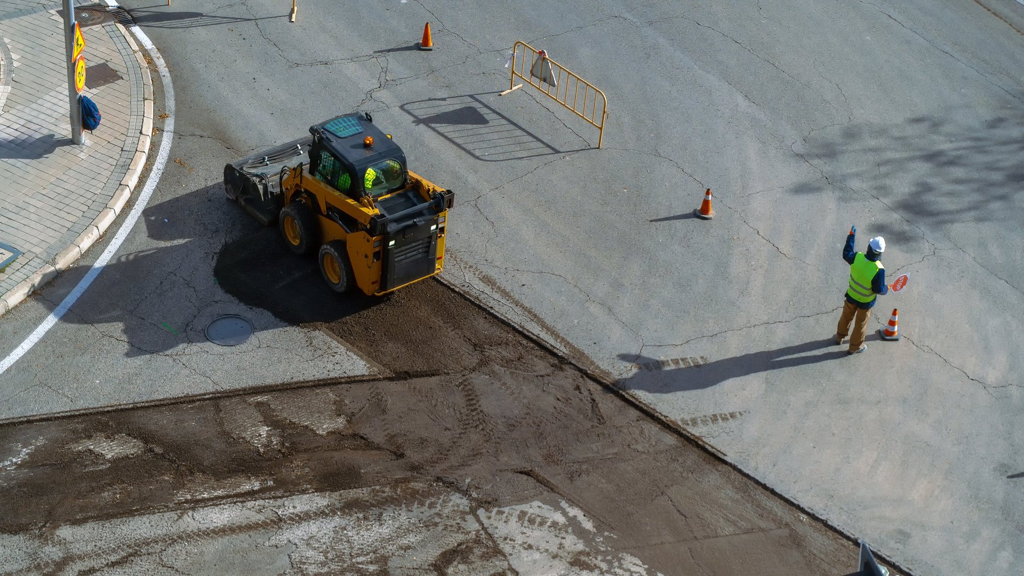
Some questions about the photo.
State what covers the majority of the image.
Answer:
paved ground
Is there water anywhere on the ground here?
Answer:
No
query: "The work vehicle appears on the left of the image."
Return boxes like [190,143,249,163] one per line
[224,110,454,299]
